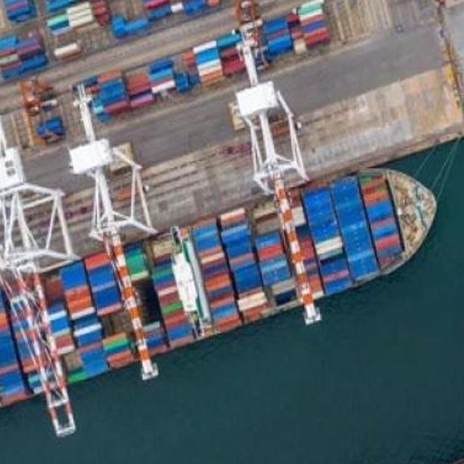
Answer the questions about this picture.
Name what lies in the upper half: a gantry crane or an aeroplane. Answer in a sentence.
There is a gantry crane in the upper half.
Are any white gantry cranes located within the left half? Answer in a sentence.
Yes, a white gantry crane appears within the left half.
